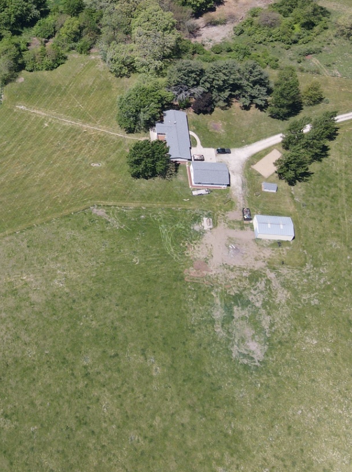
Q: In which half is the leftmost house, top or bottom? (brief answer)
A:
top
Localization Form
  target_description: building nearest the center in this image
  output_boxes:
[190,161,231,188]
